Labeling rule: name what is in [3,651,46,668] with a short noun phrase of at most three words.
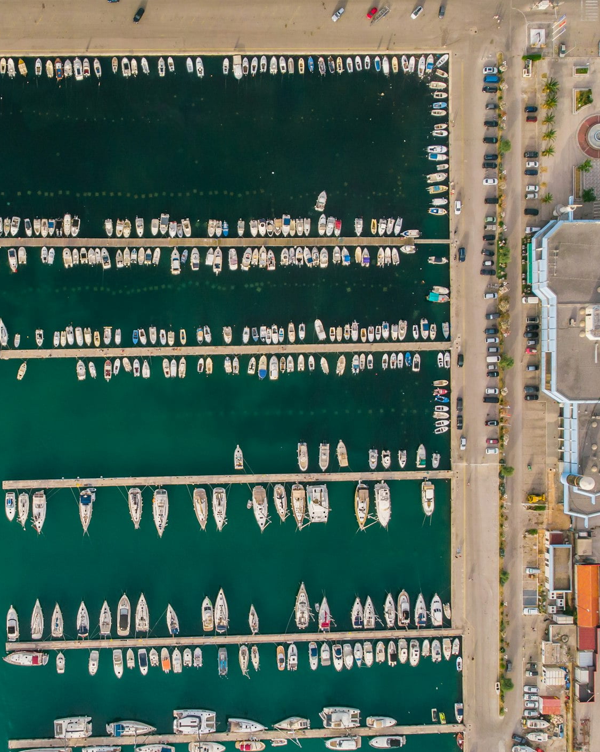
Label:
boat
